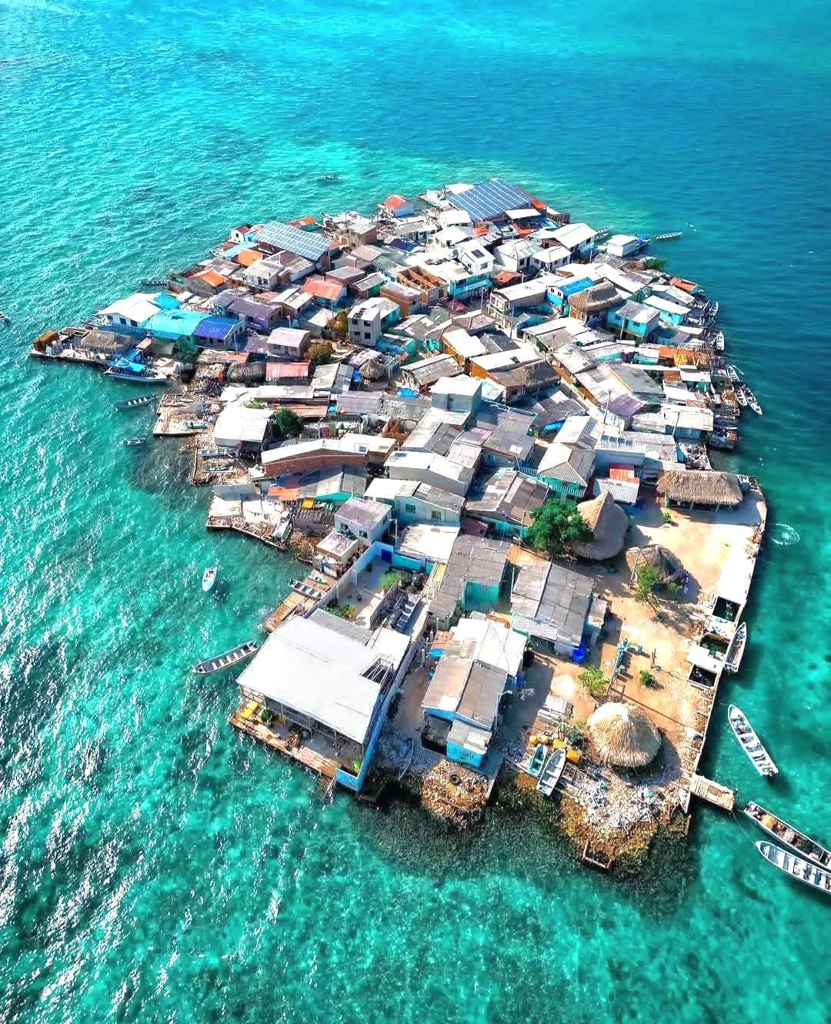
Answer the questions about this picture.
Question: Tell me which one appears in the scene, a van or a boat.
boat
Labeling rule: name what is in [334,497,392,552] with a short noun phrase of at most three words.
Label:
house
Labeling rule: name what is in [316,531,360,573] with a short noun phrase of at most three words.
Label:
shed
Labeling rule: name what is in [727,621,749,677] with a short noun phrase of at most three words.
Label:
boat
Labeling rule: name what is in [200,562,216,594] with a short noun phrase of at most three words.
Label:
boat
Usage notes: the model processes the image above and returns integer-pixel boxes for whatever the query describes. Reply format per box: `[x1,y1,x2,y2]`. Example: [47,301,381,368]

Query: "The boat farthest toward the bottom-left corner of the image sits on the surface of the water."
[193,638,260,674]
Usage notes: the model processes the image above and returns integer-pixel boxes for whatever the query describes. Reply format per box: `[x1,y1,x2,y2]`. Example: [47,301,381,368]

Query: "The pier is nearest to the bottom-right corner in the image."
[694,773,735,816]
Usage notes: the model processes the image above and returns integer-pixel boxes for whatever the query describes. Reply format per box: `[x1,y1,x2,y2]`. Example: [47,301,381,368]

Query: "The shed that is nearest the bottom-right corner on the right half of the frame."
[588,706,661,771]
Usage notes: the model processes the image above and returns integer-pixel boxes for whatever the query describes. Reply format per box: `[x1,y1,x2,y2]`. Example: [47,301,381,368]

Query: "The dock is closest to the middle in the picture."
[293,573,330,614]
